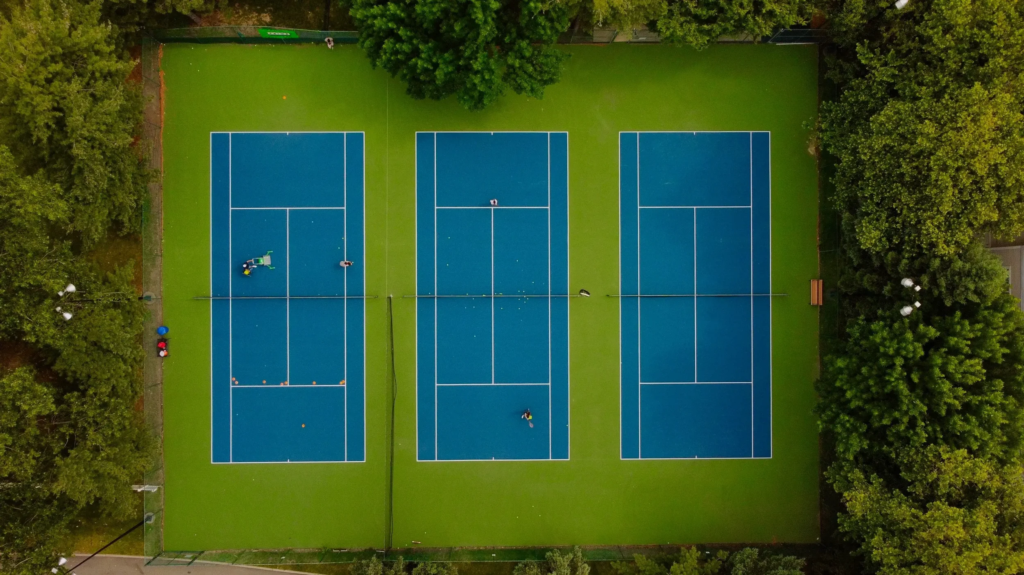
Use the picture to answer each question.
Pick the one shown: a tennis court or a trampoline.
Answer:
tennis court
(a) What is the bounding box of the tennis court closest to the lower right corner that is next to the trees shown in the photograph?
[620,132,771,458]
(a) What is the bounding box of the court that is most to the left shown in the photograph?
[212,133,365,462]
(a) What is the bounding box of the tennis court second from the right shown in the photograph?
[417,133,568,460]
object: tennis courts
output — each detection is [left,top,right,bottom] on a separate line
[620,132,771,458]
[212,133,365,462]
[417,133,568,460]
